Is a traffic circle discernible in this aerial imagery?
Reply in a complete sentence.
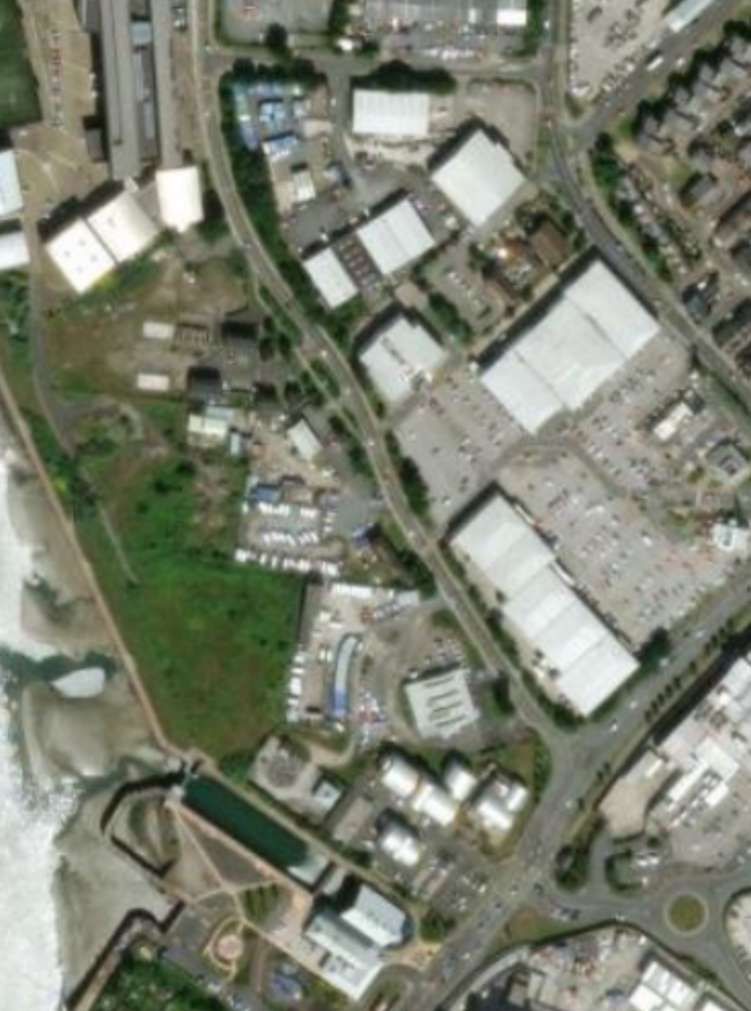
Yes, the frame does contain a traffic circle.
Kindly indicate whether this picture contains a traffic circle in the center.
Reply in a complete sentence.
No, there's no traffic circle to be seen in the center.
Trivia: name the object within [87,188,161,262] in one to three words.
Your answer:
building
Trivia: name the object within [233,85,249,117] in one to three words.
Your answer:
shed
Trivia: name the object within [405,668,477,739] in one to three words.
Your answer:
building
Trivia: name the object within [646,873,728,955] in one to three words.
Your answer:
roundabout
